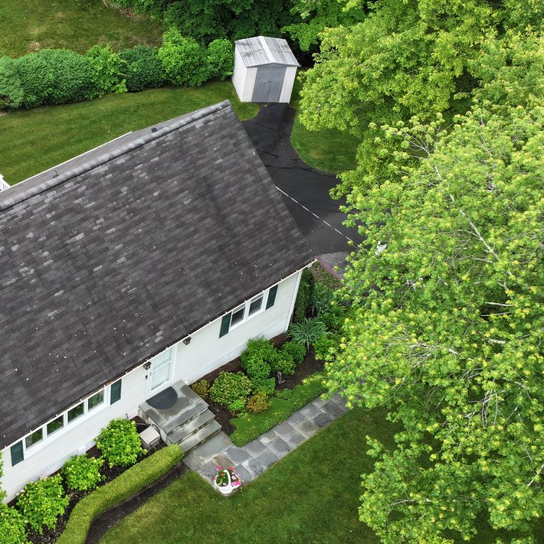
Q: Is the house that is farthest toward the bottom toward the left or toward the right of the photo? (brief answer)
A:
left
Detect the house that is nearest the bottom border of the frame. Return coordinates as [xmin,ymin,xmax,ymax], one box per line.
[0,97,318,503]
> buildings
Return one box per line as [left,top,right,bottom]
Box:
[0,97,318,503]
[237,32,300,103]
